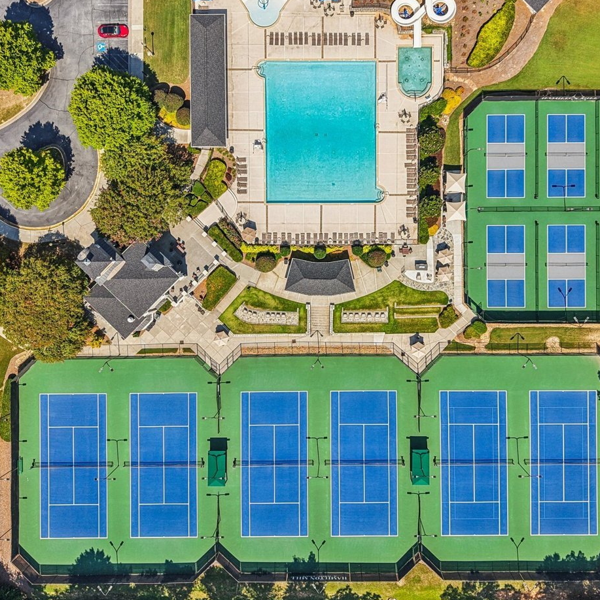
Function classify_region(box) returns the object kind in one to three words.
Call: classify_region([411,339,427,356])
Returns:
umbrella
